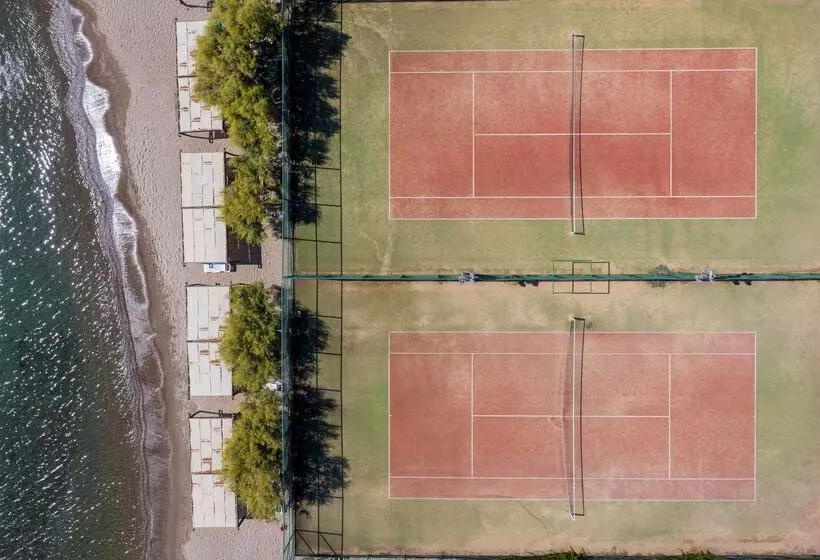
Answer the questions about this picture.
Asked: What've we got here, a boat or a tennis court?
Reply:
tennis court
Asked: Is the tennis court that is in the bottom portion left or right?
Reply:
right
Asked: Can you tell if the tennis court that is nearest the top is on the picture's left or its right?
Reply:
right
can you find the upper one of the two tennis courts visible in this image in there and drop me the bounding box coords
[295,0,820,274]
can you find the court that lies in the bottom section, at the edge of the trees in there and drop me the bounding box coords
[295,279,820,557]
